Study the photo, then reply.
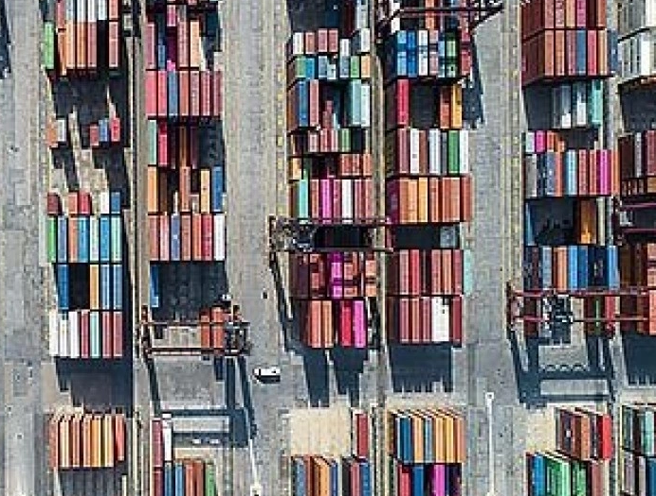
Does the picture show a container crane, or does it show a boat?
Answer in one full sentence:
I can see a container crane in this picture.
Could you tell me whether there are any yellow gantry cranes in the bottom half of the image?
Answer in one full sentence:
No, there's no yellow gantry crane to be seen in the bottom half of the image.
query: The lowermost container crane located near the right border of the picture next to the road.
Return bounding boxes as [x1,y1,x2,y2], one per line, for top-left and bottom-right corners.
[504,282,655,326]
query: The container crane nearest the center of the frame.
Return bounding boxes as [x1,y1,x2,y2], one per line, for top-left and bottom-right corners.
[264,215,394,262]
